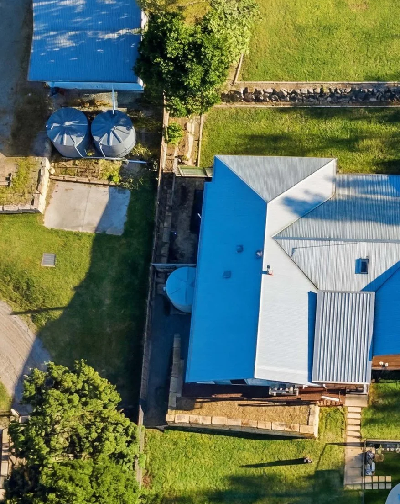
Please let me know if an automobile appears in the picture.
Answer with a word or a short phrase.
No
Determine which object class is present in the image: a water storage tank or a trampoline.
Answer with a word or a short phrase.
water storage tank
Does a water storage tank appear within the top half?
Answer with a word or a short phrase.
Yes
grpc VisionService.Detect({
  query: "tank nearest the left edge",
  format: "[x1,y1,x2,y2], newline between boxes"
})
[47,109,98,158]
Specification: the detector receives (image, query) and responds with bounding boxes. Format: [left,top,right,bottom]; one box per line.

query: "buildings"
[182,154,400,403]
[27,0,164,115]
